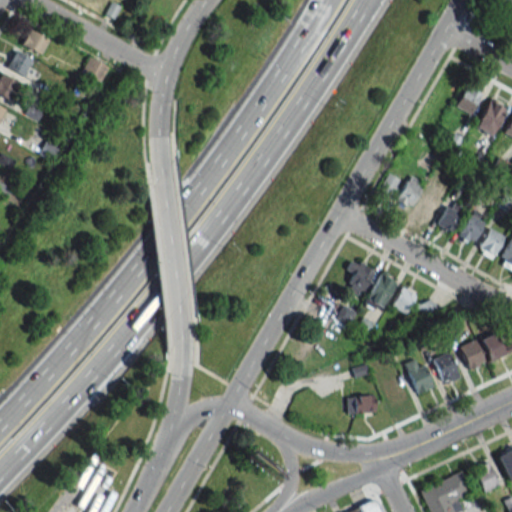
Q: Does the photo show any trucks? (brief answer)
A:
Yes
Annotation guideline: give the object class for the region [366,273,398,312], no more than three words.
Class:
house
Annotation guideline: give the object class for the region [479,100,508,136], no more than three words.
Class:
house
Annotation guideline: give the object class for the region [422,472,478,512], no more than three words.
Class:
building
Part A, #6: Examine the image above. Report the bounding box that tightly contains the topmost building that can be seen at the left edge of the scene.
[24,30,50,54]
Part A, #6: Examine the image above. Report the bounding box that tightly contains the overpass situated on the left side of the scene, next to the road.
[144,137,200,366]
